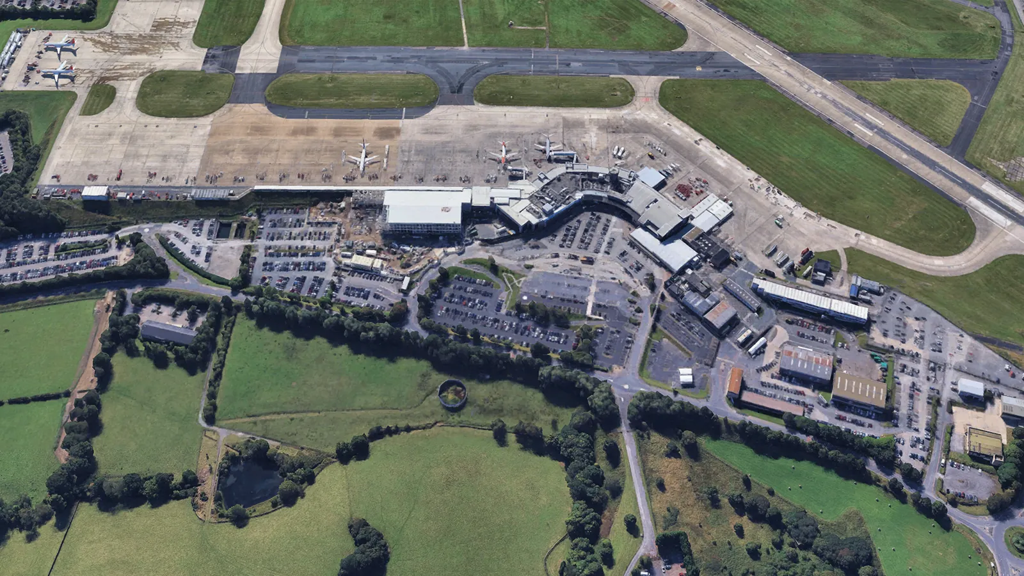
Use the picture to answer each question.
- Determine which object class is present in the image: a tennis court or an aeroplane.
aeroplane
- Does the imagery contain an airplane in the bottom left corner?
No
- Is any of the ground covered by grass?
Yes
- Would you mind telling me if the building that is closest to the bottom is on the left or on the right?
right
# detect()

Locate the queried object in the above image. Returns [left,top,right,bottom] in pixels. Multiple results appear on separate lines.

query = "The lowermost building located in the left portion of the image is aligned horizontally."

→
[142,320,196,346]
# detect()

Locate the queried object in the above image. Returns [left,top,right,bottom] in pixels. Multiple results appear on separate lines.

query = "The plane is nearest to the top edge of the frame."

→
[44,32,75,55]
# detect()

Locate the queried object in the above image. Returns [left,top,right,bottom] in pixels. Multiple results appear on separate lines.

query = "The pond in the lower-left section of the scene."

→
[219,460,282,508]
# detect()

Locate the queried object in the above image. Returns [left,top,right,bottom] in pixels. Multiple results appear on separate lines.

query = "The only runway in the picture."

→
[649,0,1024,241]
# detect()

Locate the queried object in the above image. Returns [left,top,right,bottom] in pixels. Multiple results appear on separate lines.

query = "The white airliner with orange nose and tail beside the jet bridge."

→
[489,142,518,167]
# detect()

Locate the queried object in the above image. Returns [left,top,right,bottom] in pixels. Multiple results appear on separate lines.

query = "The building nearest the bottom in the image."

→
[966,427,1003,457]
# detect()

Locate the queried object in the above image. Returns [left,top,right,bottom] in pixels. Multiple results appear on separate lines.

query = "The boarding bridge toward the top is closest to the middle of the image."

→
[506,166,526,179]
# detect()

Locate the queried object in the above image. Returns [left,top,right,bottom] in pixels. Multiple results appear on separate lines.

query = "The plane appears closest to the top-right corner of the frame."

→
[533,133,562,161]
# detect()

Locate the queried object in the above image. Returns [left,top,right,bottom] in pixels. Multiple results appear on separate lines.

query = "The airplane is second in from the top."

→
[43,60,74,83]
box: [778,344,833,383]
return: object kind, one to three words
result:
building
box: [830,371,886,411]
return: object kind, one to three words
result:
building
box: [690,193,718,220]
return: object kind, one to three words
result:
shed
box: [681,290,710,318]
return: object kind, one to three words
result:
hangar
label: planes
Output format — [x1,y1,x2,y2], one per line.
[43,60,74,83]
[44,32,75,55]
[489,142,518,167]
[533,133,562,161]
[347,143,378,175]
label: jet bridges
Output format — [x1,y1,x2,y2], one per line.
[549,152,577,163]
[506,166,526,179]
